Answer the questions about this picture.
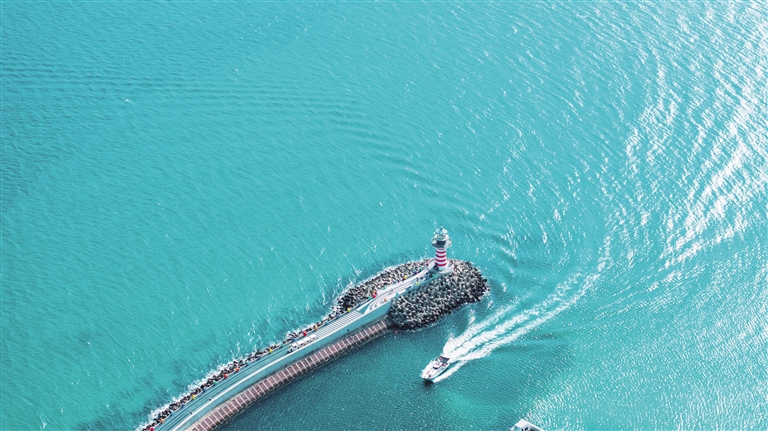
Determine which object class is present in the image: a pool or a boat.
boat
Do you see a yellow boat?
No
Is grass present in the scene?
No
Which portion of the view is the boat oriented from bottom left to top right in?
bottom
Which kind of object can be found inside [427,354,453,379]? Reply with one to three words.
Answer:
boat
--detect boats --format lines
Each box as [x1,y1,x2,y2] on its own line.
[512,419,544,431]
[427,354,453,379]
